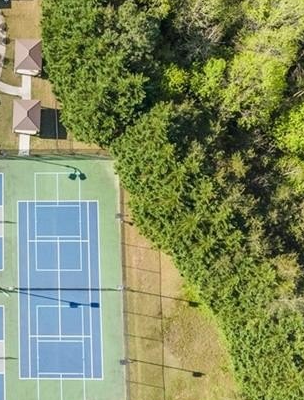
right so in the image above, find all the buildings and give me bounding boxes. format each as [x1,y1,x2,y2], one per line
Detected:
[15,41,41,78]
[13,100,40,134]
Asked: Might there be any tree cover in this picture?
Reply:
Yes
